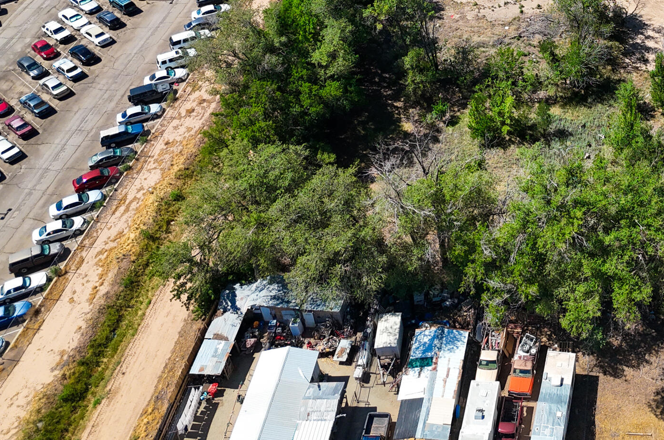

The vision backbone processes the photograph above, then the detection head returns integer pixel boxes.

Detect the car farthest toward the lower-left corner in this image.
[0,329,28,356]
